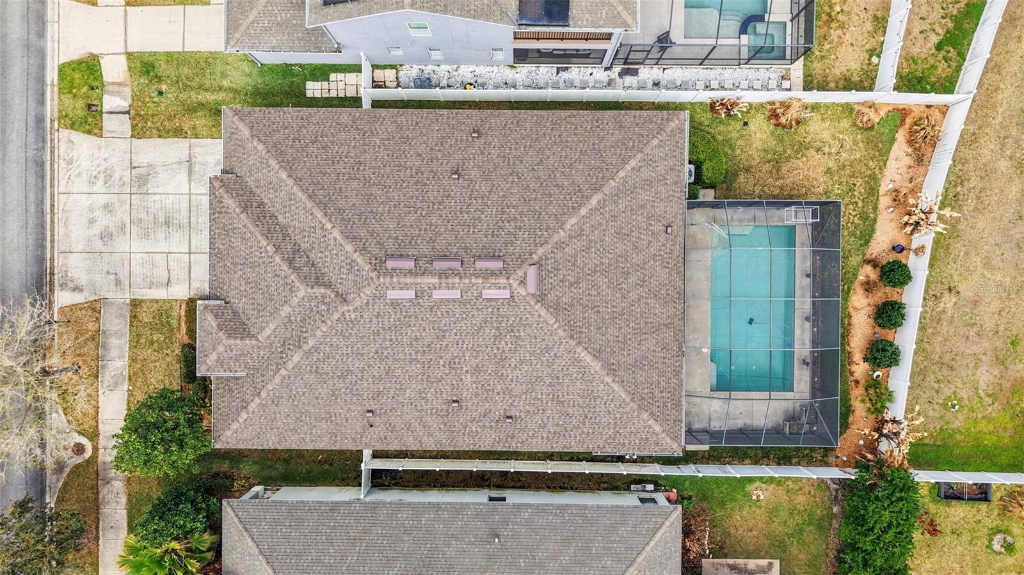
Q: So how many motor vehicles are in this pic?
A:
0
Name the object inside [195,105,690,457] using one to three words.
house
